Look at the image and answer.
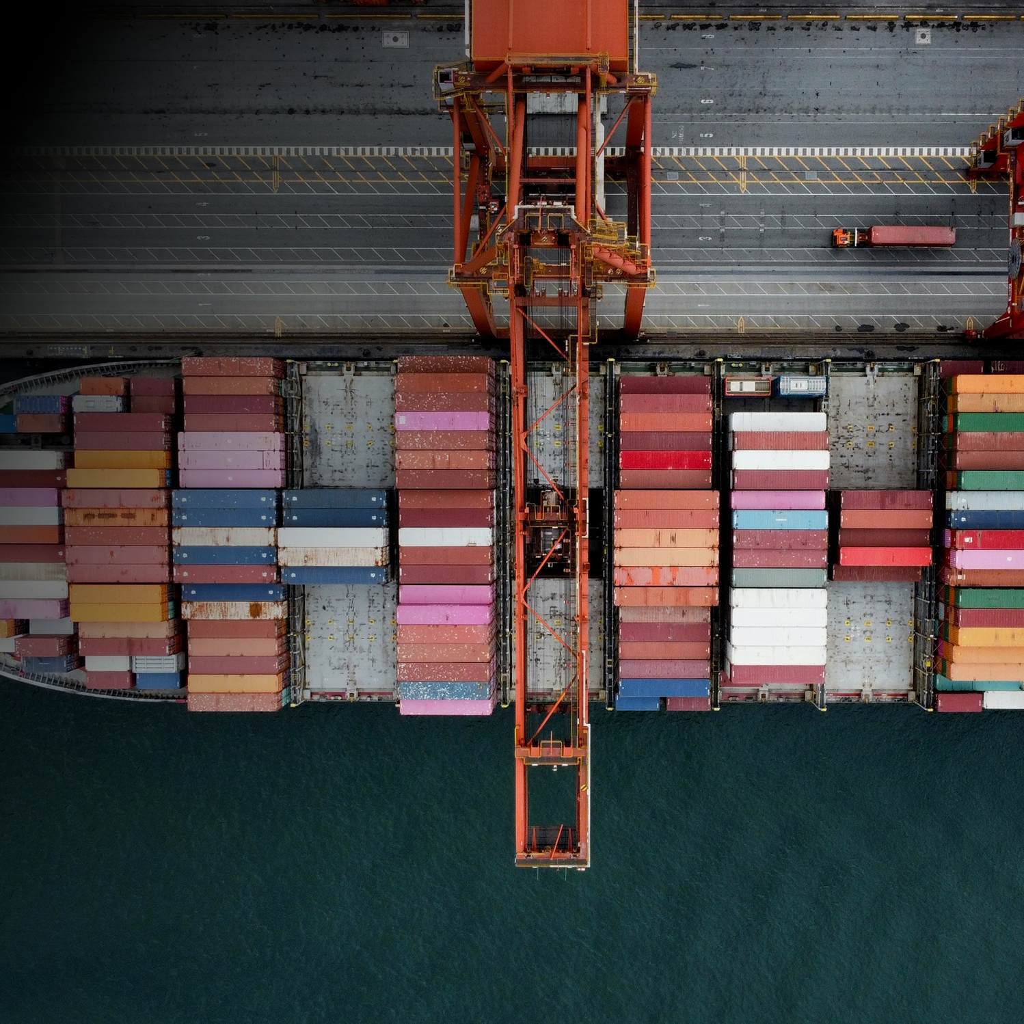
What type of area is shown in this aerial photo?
port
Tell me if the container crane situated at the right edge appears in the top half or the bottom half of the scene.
top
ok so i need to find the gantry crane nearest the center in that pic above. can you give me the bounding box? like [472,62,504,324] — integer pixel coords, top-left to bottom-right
[432,0,657,881]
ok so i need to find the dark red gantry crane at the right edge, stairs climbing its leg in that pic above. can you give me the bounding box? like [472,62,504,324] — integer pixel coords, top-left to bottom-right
[961,91,1024,344]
